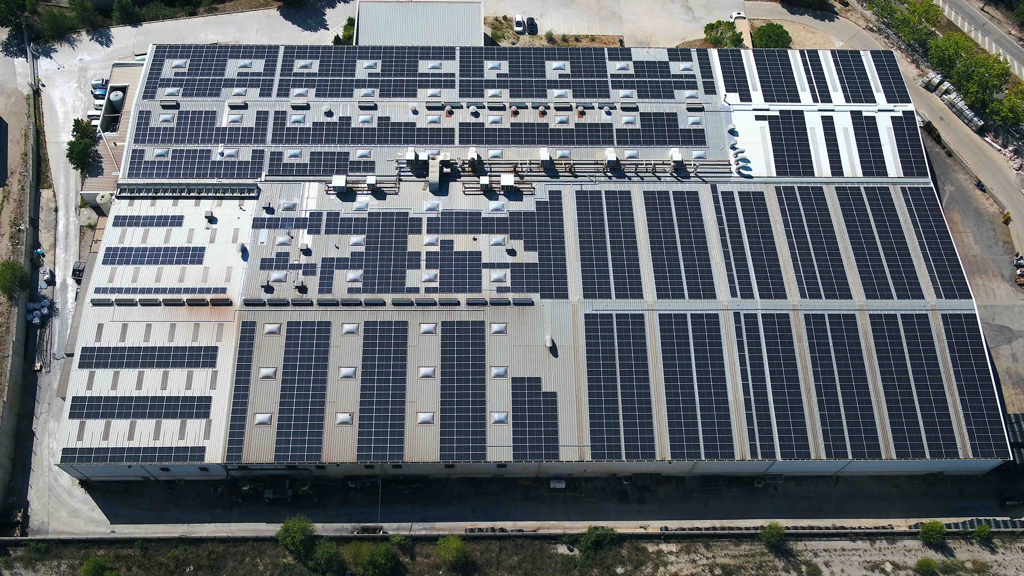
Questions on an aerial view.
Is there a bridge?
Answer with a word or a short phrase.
No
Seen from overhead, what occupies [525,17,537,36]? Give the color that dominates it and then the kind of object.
black vehicle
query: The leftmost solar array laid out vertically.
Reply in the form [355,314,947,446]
[226,319,257,464]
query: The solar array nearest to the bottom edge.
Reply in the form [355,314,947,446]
[60,445,206,465]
